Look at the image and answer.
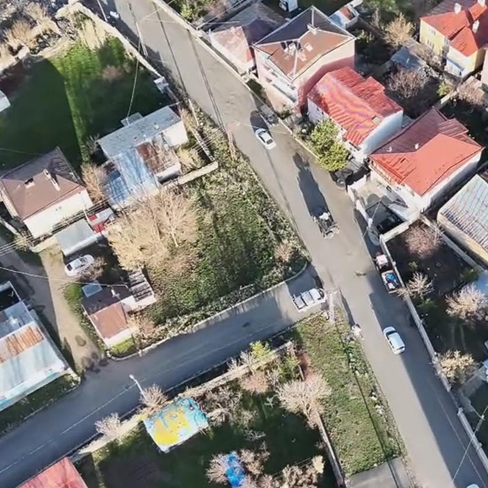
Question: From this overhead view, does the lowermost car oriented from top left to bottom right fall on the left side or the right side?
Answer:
right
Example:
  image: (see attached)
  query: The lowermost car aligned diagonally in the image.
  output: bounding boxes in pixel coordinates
[382,327,405,354]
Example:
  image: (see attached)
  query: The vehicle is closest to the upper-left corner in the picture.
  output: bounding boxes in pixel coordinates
[107,7,122,21]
